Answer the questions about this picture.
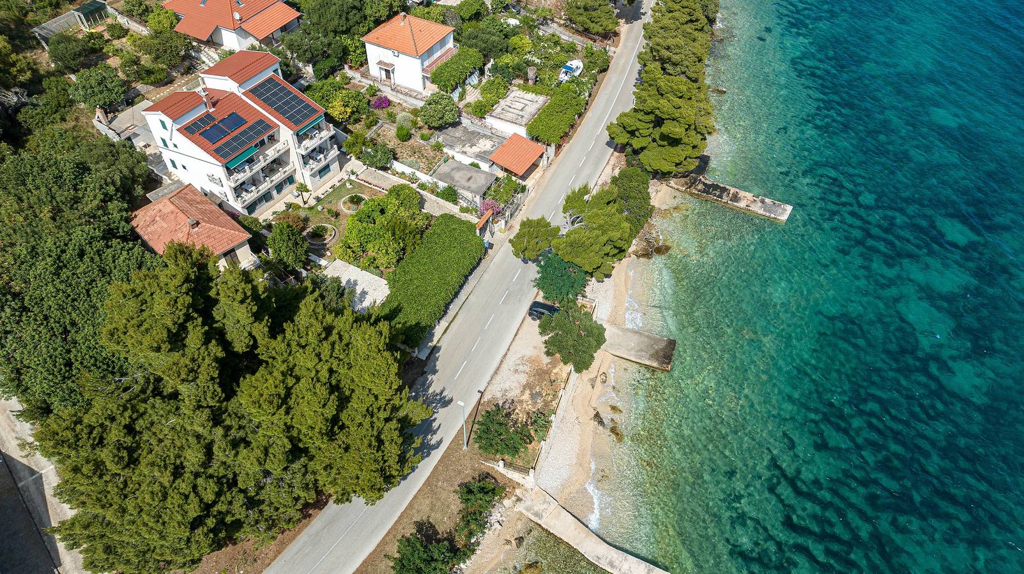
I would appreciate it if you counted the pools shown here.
0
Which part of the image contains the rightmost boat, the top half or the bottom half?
top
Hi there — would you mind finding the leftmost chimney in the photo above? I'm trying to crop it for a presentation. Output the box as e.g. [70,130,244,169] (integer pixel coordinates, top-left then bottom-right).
[91,102,112,127]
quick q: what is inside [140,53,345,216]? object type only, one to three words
house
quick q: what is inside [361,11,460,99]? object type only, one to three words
house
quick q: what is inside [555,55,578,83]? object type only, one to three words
boat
